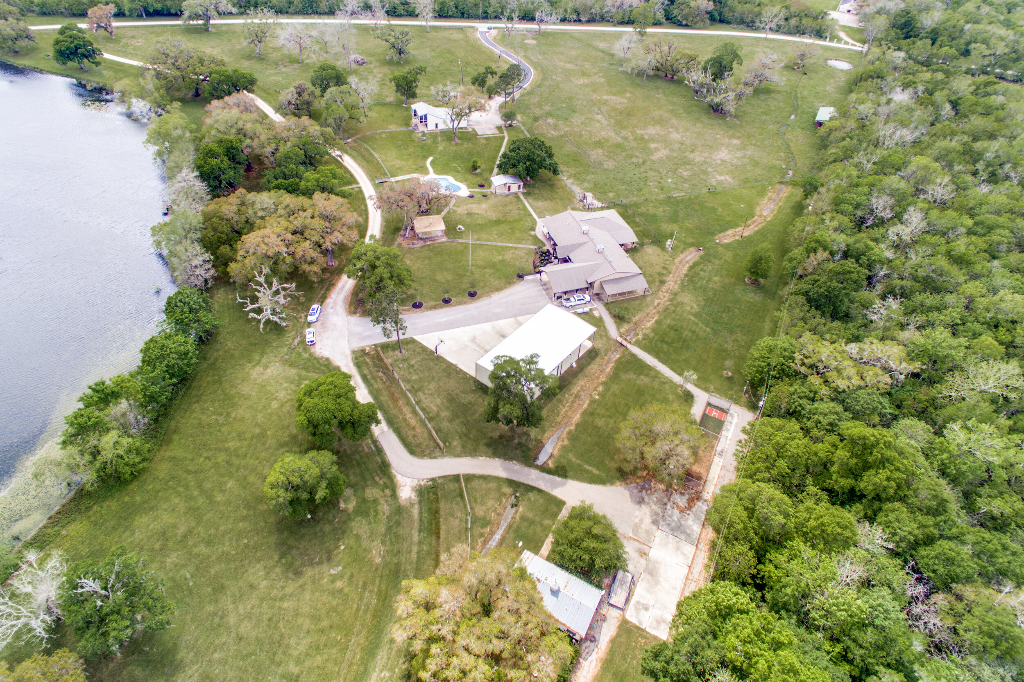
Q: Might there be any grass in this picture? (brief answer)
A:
Yes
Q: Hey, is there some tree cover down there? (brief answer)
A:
Yes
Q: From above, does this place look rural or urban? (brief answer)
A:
rural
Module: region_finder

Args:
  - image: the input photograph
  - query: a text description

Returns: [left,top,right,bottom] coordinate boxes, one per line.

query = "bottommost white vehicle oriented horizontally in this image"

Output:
[562,293,593,308]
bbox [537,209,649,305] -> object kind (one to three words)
house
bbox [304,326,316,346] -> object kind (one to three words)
vehicle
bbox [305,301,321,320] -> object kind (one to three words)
car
